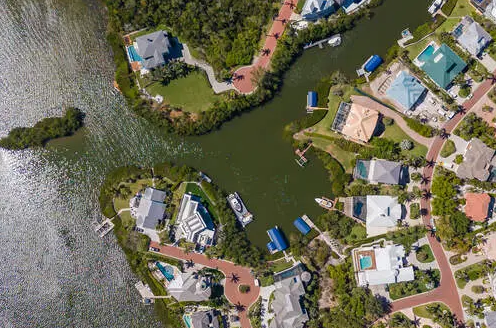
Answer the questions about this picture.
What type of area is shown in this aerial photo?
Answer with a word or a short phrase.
residential area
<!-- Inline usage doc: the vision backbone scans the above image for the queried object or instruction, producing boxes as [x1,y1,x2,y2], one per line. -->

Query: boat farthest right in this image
[426,0,441,16]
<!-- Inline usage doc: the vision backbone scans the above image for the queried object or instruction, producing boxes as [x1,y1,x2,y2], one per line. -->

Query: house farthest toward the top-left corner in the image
[136,29,177,69]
